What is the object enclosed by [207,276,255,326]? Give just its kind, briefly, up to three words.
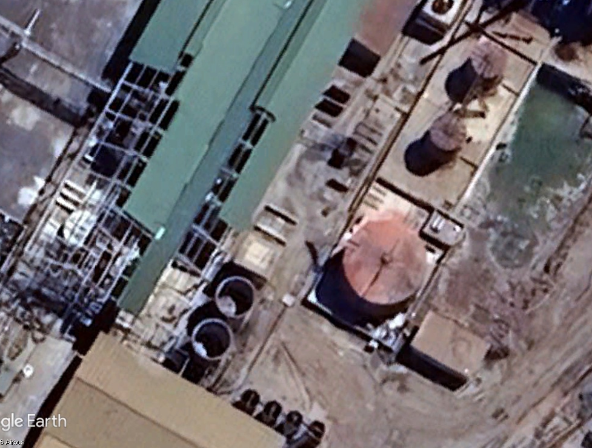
storage tank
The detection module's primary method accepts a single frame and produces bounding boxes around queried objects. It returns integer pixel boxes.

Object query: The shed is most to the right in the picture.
[410,310,490,381]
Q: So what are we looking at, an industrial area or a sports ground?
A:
industrial area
